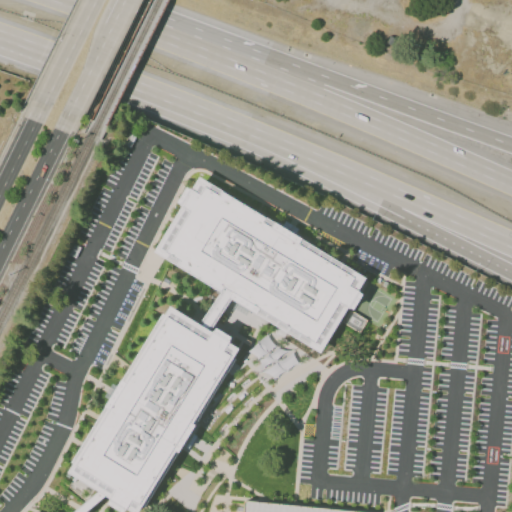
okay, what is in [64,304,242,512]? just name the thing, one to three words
building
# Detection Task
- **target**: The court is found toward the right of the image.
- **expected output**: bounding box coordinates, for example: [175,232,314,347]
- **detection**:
[362,286,396,323]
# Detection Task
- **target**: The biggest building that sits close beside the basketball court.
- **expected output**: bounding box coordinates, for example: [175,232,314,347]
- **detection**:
[154,176,369,354]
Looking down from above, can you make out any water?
No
